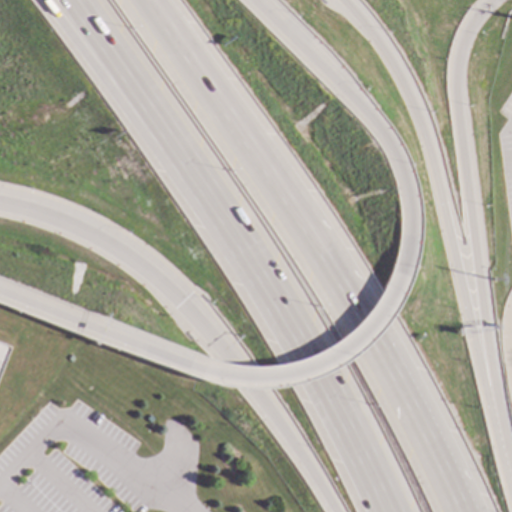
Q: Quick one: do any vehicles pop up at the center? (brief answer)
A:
Yes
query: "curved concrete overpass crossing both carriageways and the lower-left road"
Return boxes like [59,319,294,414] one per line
[0,197,424,388]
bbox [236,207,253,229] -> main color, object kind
white vehicle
